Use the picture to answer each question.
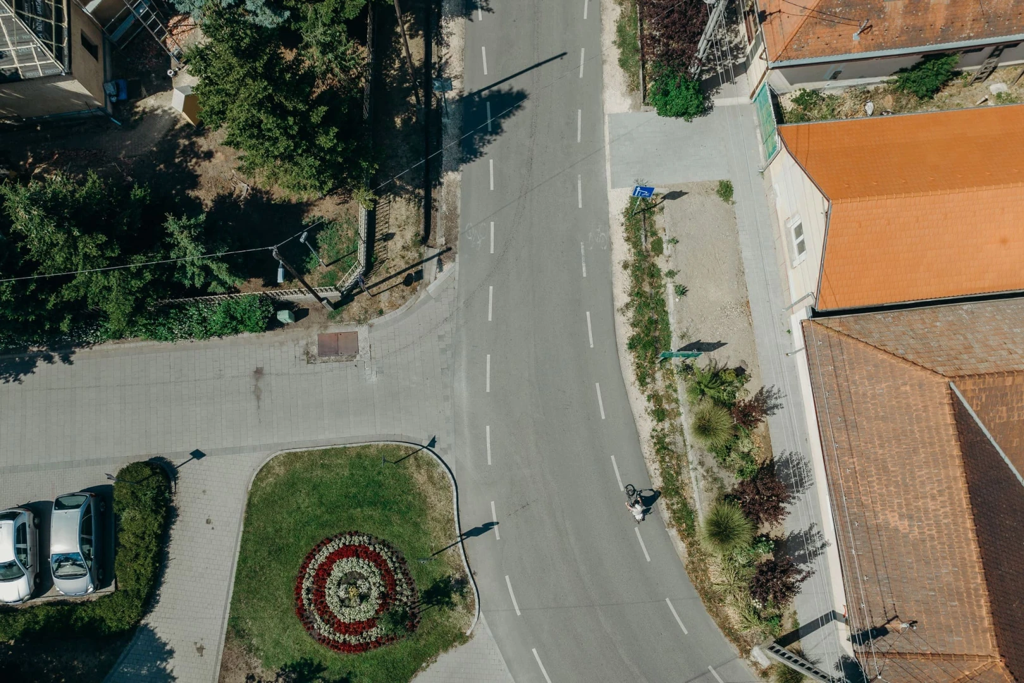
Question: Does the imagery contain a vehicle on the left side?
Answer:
Yes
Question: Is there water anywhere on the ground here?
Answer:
No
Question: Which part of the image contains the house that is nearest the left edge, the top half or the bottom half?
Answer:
top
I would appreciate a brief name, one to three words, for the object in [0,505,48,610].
car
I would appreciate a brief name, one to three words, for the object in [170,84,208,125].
shed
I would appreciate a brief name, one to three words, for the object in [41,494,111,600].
car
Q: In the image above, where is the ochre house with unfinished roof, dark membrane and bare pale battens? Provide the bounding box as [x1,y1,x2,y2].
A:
[0,0,153,123]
